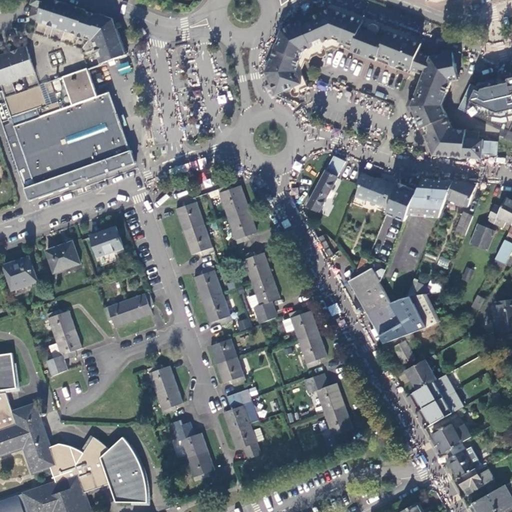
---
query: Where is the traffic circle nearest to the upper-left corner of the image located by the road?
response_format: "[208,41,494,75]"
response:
[214,0,274,39]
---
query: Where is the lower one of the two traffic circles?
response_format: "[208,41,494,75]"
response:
[240,108,300,168]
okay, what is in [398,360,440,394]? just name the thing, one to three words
house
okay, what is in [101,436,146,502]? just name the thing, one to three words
building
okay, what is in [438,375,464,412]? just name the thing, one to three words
building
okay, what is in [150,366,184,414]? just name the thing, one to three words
house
